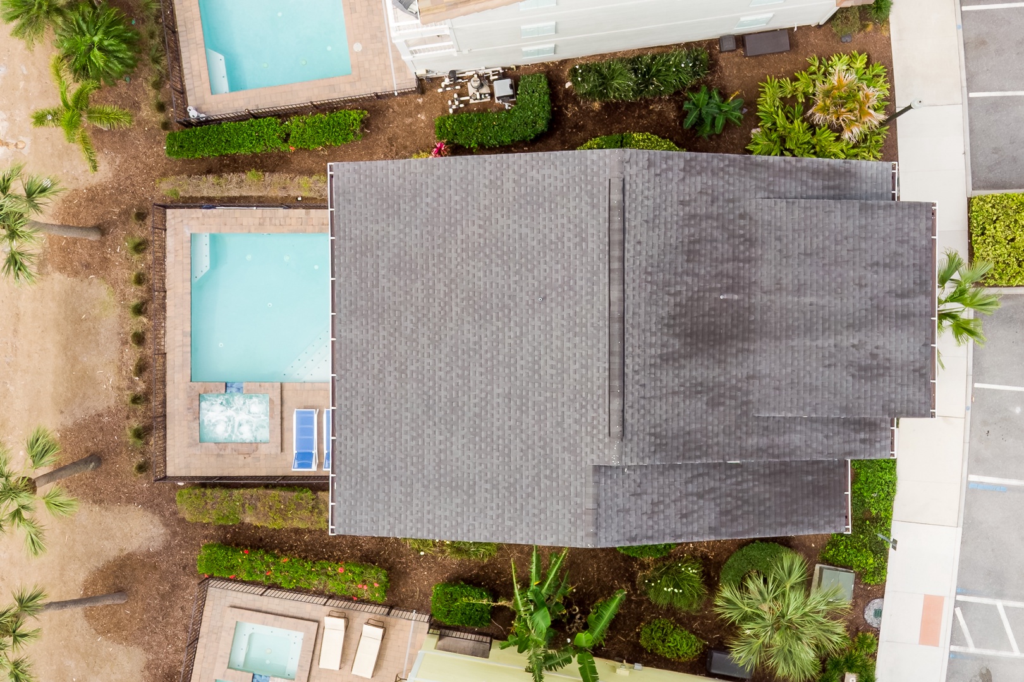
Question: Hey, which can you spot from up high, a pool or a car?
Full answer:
It is a pool that can be seen here.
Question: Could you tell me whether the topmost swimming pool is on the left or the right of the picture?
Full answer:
You can find the topmost swimming pool on the left side of the picture.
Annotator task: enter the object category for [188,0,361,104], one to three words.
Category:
swimming pool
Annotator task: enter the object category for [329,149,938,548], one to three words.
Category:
house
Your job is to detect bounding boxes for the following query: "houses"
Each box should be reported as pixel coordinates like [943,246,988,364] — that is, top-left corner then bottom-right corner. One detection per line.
[383,0,877,77]
[329,149,938,548]
[413,634,709,682]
